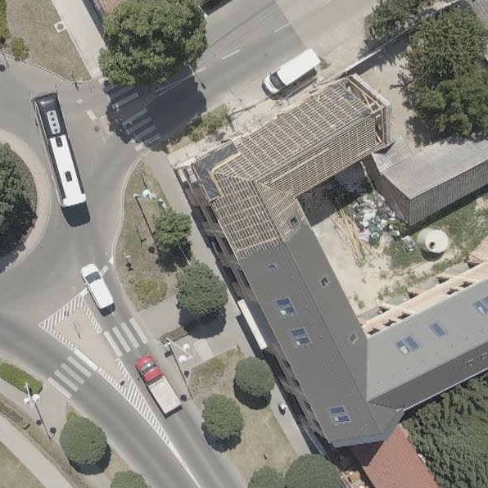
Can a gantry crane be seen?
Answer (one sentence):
No, no gantry crane is visible in the view.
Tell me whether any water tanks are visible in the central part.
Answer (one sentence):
No, no water tank appears in the central part.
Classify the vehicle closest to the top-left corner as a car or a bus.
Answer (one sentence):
What you see as the vehicle closest to the top-left corner is a bus.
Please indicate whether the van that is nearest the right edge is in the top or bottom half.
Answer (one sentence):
The van that is nearest the right edge is in the top half of the image.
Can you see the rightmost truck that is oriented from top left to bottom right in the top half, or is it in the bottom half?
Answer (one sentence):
The bottom half of the photo is where the rightmost truck that is oriented from top left to bottom right is.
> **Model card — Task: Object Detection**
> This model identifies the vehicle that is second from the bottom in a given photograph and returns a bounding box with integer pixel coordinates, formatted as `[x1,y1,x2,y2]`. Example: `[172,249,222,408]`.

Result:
[81,262,117,312]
